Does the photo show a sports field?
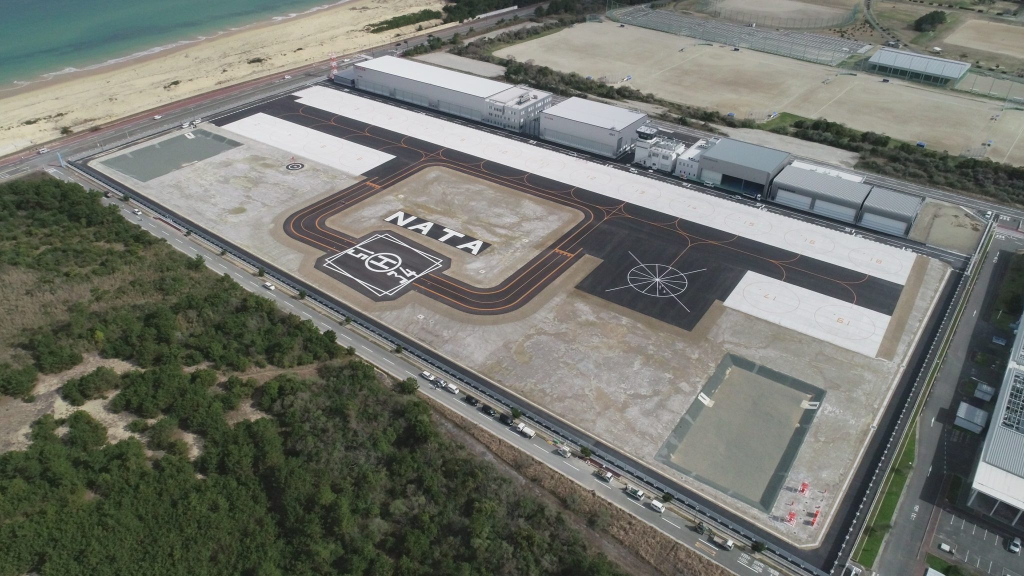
Yes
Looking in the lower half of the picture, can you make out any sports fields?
No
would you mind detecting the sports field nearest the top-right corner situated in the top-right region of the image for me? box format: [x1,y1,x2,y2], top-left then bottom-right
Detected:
[944,20,1024,58]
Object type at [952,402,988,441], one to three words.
shed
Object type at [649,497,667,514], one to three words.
vehicle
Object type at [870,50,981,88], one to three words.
building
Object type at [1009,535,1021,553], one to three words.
vehicle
